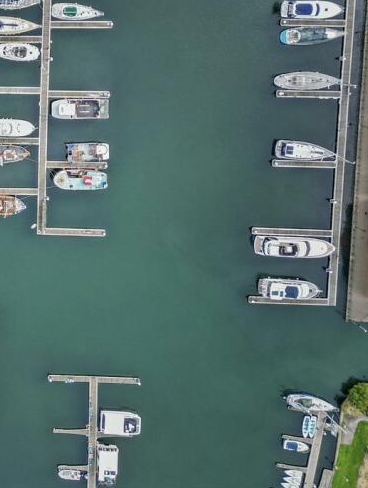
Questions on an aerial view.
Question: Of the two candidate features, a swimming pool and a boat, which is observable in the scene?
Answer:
boat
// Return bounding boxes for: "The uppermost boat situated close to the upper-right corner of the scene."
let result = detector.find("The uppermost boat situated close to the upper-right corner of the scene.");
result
[279,0,346,19]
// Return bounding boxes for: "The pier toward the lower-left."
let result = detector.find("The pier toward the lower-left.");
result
[48,374,141,488]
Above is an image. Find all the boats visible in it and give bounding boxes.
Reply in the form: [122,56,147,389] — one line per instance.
[279,0,346,19]
[0,41,42,61]
[282,439,310,453]
[273,140,347,164]
[273,71,343,90]
[253,235,336,259]
[48,3,104,22]
[0,118,35,137]
[54,169,108,191]
[52,98,110,120]
[58,469,91,481]
[61,142,110,162]
[0,145,33,165]
[0,194,26,219]
[0,16,41,36]
[279,25,346,45]
[96,442,120,487]
[99,410,141,441]
[285,394,354,446]
[0,0,40,10]
[256,277,319,301]
[303,416,311,438]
